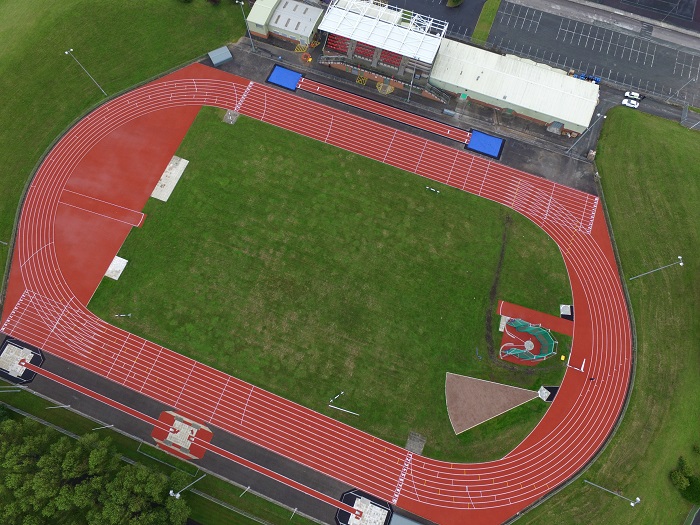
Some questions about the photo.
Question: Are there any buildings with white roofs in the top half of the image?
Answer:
Yes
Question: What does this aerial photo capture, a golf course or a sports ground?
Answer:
sports ground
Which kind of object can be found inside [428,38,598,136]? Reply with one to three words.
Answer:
building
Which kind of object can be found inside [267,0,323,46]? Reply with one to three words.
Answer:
building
